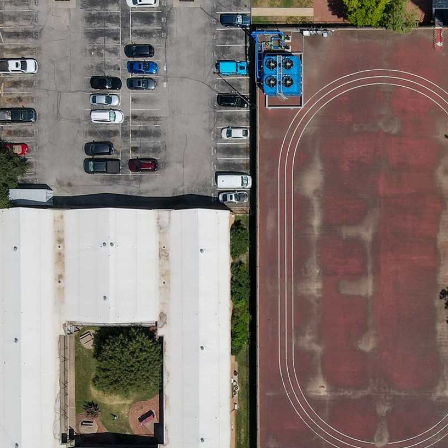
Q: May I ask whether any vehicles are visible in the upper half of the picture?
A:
Yes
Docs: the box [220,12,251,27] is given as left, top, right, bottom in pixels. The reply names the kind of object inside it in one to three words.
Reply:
car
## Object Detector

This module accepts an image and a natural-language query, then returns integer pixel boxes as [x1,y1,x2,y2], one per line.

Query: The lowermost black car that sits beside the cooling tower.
[217,92,249,108]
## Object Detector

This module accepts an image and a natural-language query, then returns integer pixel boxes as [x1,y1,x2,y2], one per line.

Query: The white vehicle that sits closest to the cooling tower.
[222,125,250,139]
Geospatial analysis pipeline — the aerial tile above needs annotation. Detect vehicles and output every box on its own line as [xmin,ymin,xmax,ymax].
[216,60,249,75]
[125,43,155,58]
[4,142,30,155]
[126,77,157,91]
[220,12,251,27]
[127,0,160,9]
[130,159,159,172]
[217,92,249,108]
[91,76,123,90]
[0,56,40,74]
[215,172,253,188]
[91,108,125,124]
[91,92,122,107]
[222,125,250,139]
[85,158,123,173]
[220,191,249,204]
[127,59,158,75]
[0,107,37,123]
[85,141,114,156]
